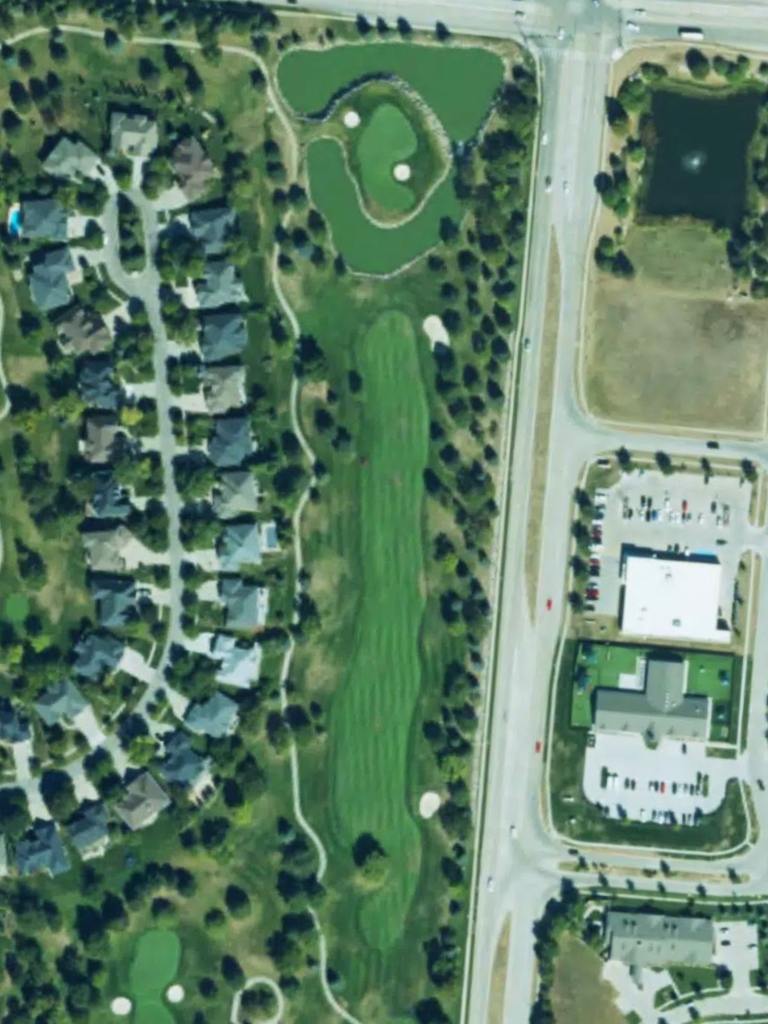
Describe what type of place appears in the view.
golf course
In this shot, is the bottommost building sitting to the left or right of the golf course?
right of it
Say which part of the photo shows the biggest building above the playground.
right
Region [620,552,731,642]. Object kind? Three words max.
building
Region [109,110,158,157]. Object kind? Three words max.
house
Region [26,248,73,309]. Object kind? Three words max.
house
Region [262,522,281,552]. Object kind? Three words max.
swimming pool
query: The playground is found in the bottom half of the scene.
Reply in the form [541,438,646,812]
[572,644,733,742]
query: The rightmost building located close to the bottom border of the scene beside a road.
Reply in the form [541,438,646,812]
[607,912,713,991]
